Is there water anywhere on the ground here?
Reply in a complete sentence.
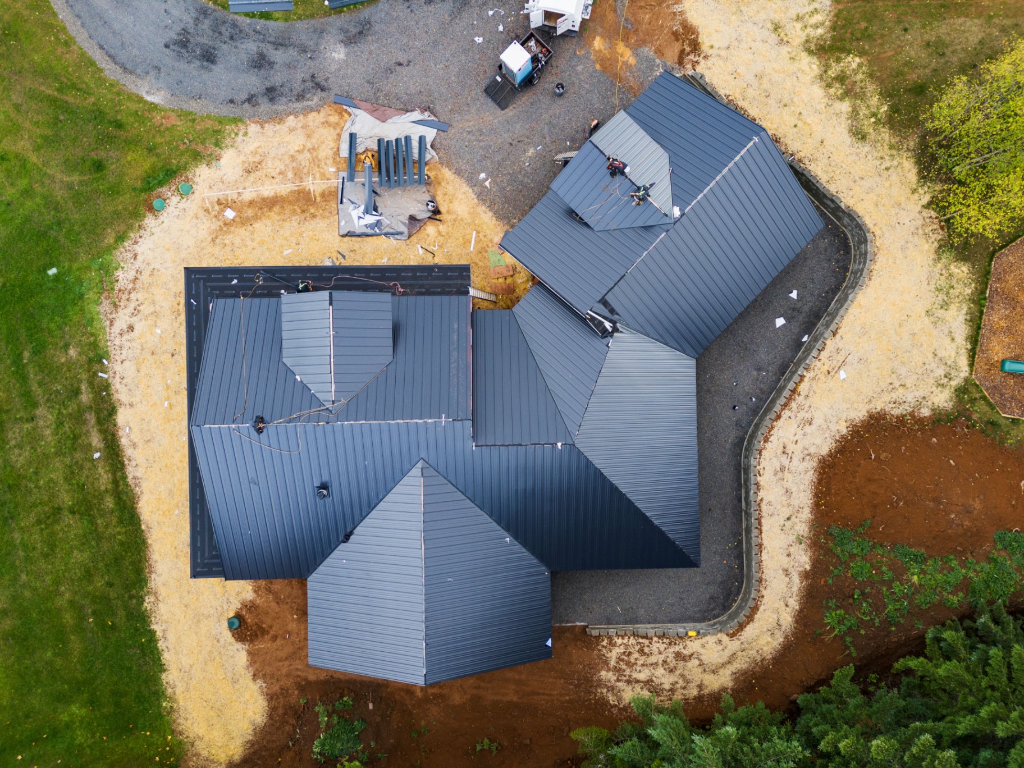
No, the scene doesn't show any water.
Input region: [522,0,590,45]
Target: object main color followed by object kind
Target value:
white truck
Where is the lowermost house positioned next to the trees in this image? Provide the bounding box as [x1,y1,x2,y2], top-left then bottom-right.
[184,67,826,687]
